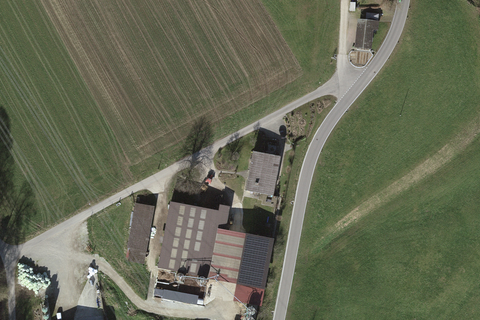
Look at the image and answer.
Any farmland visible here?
Yes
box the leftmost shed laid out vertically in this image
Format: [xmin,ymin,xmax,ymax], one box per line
[129,204,156,264]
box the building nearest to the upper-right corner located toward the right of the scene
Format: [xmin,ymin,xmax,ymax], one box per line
[355,19,380,50]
